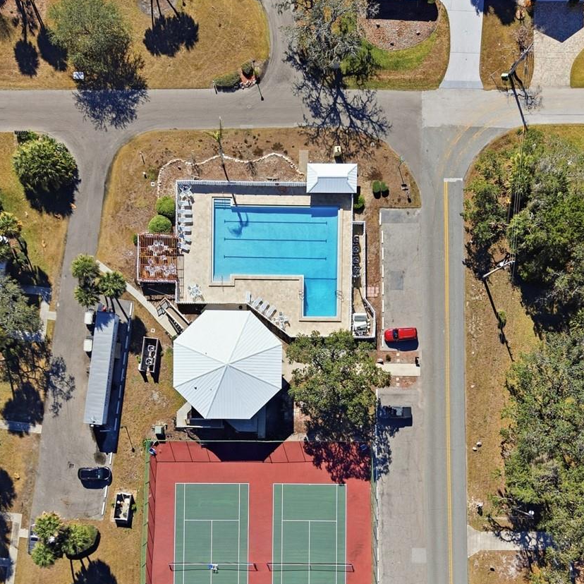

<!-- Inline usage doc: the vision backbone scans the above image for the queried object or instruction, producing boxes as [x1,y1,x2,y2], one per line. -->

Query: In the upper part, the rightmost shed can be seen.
[306,161,358,194]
